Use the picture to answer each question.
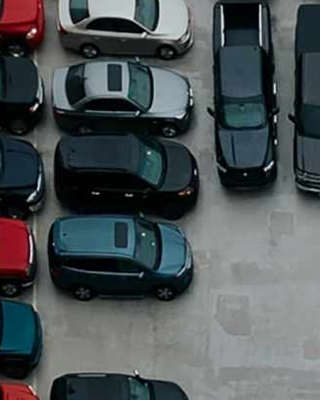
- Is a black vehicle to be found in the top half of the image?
Yes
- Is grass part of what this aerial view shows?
No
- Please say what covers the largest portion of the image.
paved ground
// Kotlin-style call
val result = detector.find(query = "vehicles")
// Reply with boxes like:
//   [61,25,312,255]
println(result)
[48,371,190,400]
[0,133,49,217]
[0,58,46,135]
[0,222,40,297]
[289,6,320,196]
[51,130,201,218]
[49,53,196,136]
[0,303,44,378]
[208,2,279,190]
[45,214,196,300]
[55,0,196,59]
[0,0,46,58]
